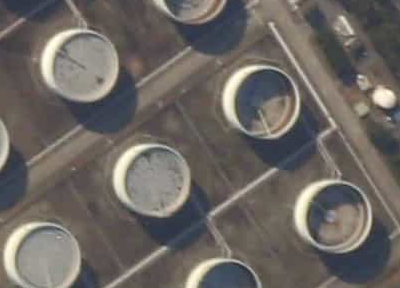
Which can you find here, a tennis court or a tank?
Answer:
tank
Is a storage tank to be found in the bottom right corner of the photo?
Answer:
Yes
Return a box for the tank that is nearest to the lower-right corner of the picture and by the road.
[288,172,371,258]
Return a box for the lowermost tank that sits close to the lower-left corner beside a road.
[0,212,80,288]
